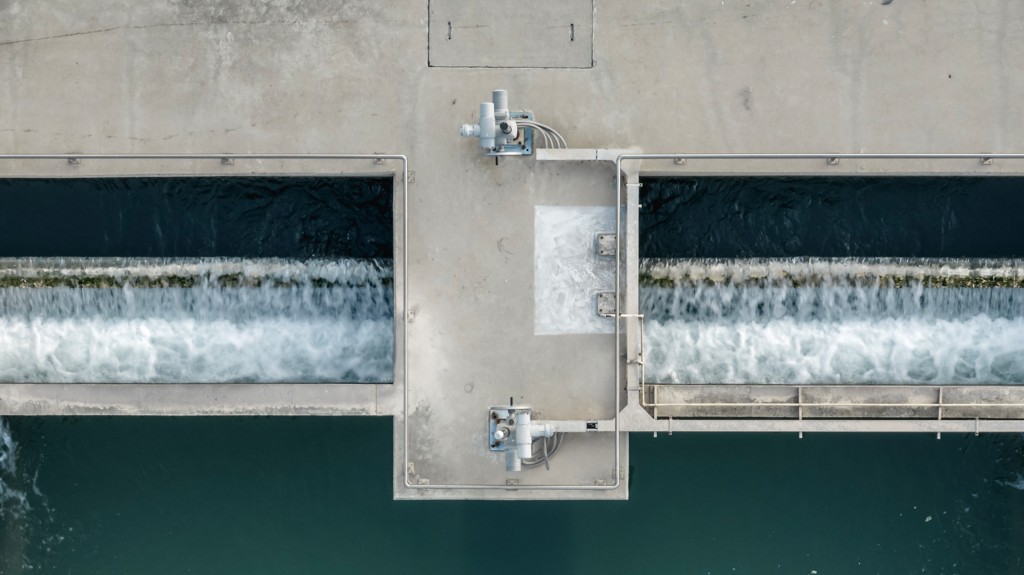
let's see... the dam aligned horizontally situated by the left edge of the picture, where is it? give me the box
[0,258,394,287]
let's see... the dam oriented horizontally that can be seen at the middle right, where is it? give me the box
[639,258,1024,287]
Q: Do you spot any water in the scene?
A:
Yes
